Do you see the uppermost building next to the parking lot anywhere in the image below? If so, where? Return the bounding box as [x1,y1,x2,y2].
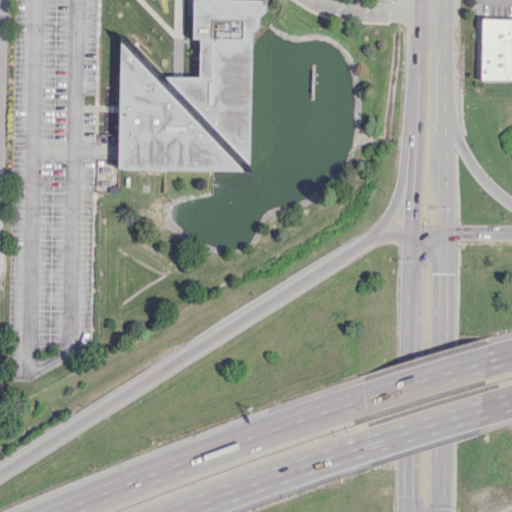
[110,0,268,174]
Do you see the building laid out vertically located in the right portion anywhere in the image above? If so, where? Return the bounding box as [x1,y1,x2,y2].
[480,18,512,83]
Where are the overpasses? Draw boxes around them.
[364,338,484,468]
